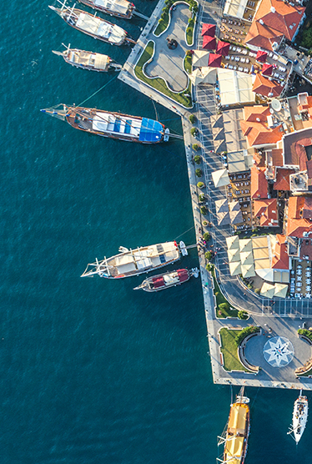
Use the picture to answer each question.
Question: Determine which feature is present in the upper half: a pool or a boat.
boat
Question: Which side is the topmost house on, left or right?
right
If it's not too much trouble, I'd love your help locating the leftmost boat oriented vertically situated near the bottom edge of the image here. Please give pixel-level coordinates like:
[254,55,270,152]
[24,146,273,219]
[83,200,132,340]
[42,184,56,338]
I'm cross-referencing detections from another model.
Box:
[221,387,259,464]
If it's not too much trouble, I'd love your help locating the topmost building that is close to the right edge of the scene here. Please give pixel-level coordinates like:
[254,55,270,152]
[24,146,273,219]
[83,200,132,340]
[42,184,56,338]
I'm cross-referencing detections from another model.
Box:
[243,0,307,54]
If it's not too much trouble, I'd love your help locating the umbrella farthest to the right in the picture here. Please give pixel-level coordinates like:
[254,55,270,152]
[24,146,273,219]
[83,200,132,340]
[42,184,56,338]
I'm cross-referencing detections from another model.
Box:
[274,283,288,298]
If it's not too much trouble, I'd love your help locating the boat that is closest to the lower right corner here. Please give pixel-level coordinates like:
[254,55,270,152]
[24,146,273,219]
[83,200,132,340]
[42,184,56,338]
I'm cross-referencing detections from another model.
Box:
[291,388,310,444]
